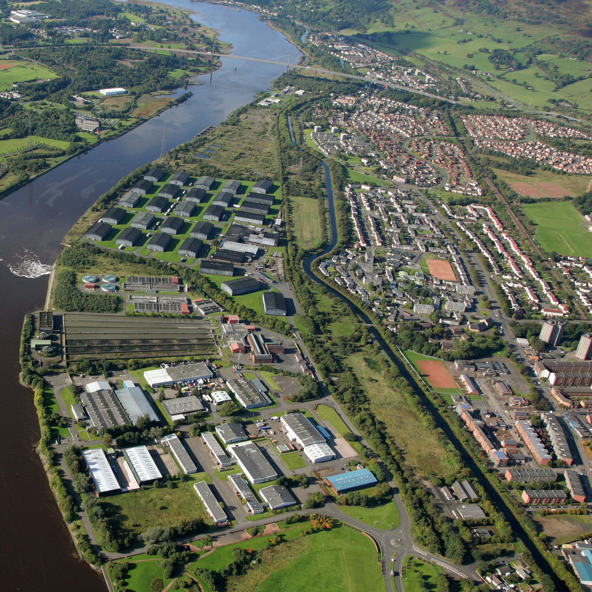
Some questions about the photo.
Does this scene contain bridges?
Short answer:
Yes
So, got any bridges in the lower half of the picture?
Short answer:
No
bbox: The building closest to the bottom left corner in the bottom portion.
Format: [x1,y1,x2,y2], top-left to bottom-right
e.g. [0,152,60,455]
[85,448,121,496]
